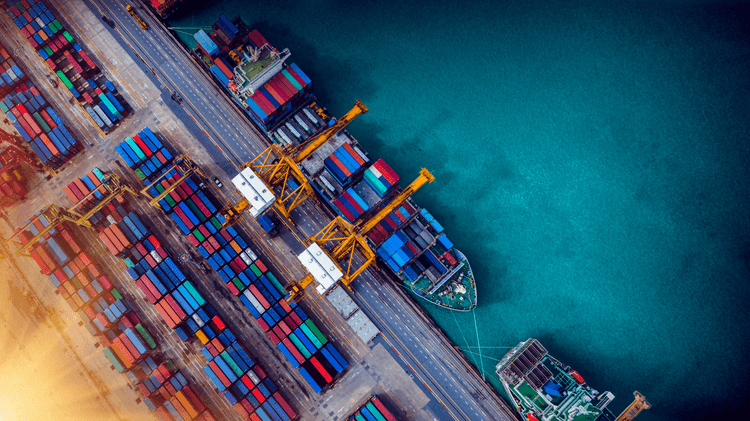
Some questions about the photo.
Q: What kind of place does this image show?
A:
port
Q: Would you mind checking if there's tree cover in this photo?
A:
No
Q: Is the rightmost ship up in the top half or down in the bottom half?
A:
bottom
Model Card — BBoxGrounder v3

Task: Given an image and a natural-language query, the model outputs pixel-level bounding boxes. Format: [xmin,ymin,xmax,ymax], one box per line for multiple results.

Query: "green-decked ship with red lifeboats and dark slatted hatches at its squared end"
[491,336,622,421]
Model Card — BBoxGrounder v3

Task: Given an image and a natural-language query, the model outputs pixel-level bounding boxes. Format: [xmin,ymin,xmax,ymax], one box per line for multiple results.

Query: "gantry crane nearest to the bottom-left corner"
[0,201,90,266]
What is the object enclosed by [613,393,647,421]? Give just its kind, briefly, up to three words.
container crane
